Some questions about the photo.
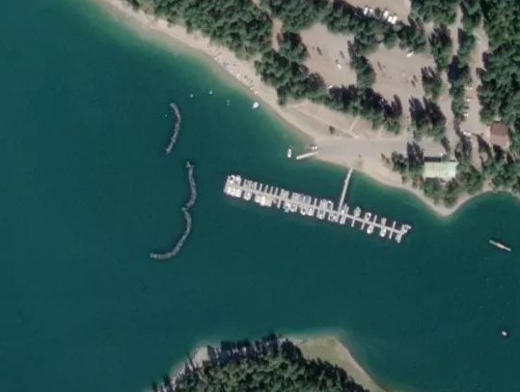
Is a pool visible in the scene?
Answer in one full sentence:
No, there's no pool here.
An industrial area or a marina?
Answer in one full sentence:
The area seen from above is a marina.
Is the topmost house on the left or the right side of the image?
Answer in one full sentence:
The topmost house appears in the right half of the scene.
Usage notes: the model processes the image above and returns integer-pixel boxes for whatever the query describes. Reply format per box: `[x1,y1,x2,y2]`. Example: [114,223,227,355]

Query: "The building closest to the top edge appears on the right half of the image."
[486,123,509,150]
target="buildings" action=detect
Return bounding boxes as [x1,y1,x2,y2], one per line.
[424,162,457,180]
[486,123,509,150]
